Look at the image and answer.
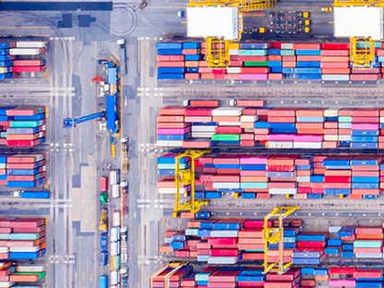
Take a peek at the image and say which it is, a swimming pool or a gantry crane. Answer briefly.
gantry crane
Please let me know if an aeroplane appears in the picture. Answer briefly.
No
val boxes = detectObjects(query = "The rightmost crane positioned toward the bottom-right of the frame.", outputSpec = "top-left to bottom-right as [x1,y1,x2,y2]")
[262,207,298,275]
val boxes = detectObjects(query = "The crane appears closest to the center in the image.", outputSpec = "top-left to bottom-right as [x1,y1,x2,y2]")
[174,150,212,214]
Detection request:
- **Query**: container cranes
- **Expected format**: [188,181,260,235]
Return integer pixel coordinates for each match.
[174,150,212,214]
[188,0,289,69]
[146,262,188,288]
[333,0,384,69]
[262,207,298,275]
